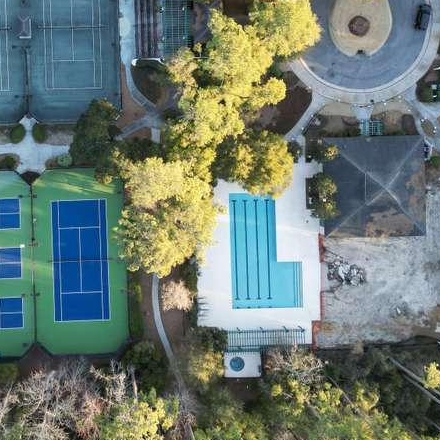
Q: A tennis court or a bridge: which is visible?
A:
tennis court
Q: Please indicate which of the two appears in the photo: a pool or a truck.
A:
pool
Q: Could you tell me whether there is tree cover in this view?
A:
Yes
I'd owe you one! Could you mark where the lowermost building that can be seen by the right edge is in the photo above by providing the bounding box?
[321,135,426,238]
